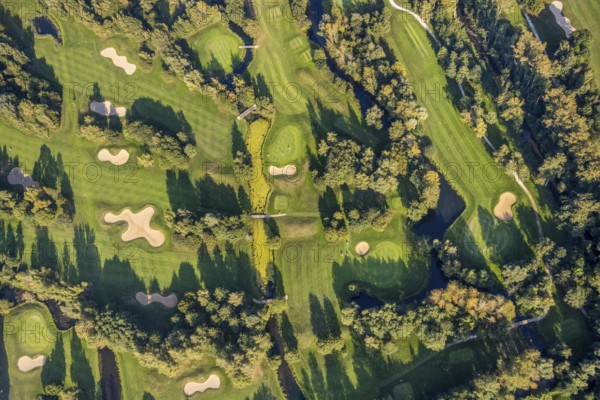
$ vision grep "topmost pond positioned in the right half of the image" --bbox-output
[350,169,466,309]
